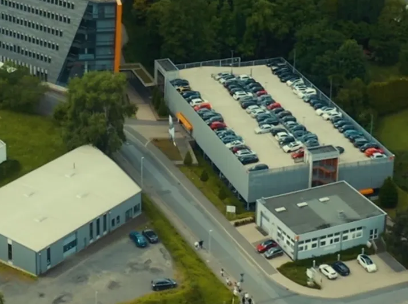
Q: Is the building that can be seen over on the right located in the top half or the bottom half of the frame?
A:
bottom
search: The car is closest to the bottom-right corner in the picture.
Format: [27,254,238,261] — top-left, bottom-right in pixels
[352,255,381,272]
